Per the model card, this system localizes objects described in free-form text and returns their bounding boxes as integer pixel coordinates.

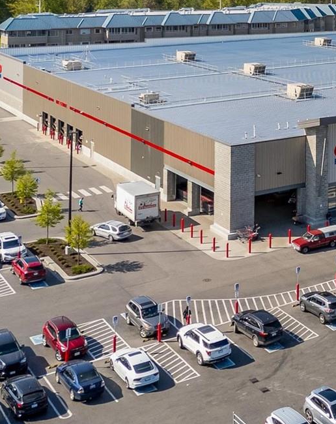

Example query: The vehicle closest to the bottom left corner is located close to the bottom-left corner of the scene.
[1,379,48,424]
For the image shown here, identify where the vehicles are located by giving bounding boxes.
[303,388,336,424]
[265,409,306,424]
[1,379,48,424]
[0,202,6,219]
[12,260,46,285]
[109,352,162,395]
[100,178,153,225]
[0,230,26,263]
[83,221,137,243]
[0,330,29,383]
[44,320,87,361]
[178,327,232,368]
[55,363,106,408]
[233,313,285,350]
[124,300,168,340]
[292,226,336,254]
[298,294,336,327]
